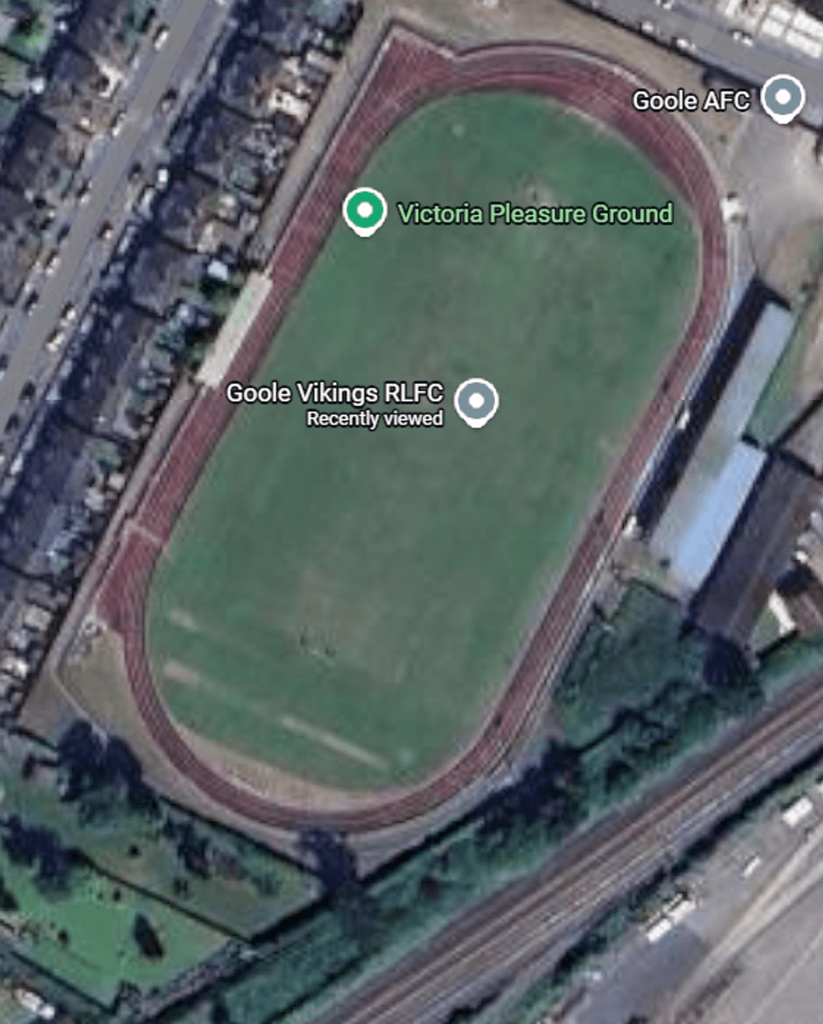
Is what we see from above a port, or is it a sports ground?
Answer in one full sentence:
This image shows a sports ground.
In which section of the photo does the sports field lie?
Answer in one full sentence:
You can find the sports field in the center area of the picture.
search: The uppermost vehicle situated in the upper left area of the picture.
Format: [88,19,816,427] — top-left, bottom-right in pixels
[153,29,168,50]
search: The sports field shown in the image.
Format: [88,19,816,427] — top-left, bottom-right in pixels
[145,89,704,814]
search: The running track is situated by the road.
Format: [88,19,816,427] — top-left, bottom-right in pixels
[94,31,727,832]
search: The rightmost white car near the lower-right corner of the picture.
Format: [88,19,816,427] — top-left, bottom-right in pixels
[744,856,761,876]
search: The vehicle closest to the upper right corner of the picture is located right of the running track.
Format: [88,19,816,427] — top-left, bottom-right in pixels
[733,31,753,46]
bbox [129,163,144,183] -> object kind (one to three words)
car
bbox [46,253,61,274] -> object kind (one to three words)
car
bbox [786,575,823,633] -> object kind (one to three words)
house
